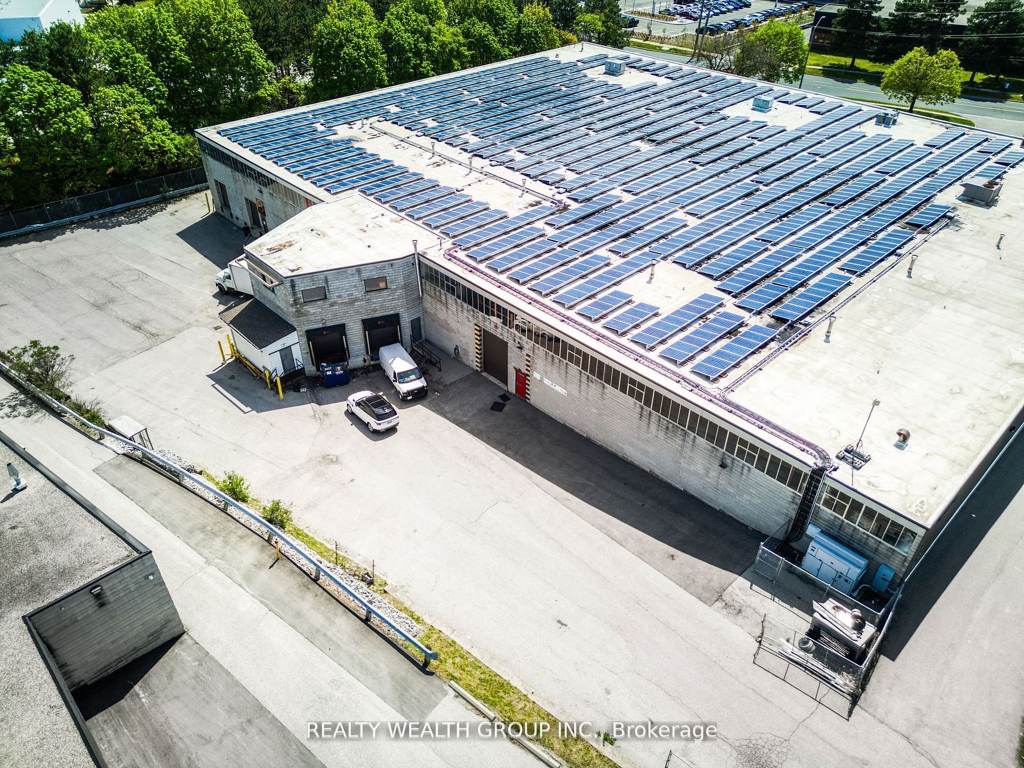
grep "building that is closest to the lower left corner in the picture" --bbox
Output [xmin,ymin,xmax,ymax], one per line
[0,428,186,768]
